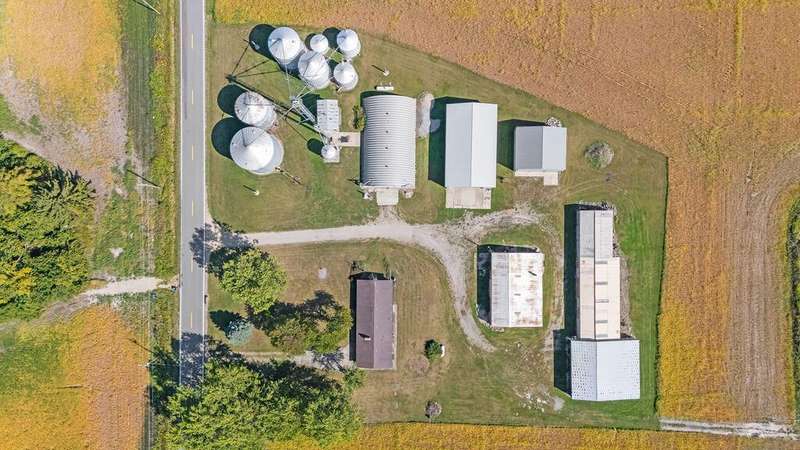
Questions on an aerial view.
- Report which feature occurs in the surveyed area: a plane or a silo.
silo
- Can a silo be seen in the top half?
Yes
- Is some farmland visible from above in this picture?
Yes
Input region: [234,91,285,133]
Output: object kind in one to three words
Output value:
silo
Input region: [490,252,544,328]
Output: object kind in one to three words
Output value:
barn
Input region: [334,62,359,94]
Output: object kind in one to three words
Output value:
silo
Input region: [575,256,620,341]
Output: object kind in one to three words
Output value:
shed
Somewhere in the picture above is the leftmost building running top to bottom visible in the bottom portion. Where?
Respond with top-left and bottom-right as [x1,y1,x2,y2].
[356,280,392,370]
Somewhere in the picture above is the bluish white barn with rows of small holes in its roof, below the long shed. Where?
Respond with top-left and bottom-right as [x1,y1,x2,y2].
[566,338,640,401]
